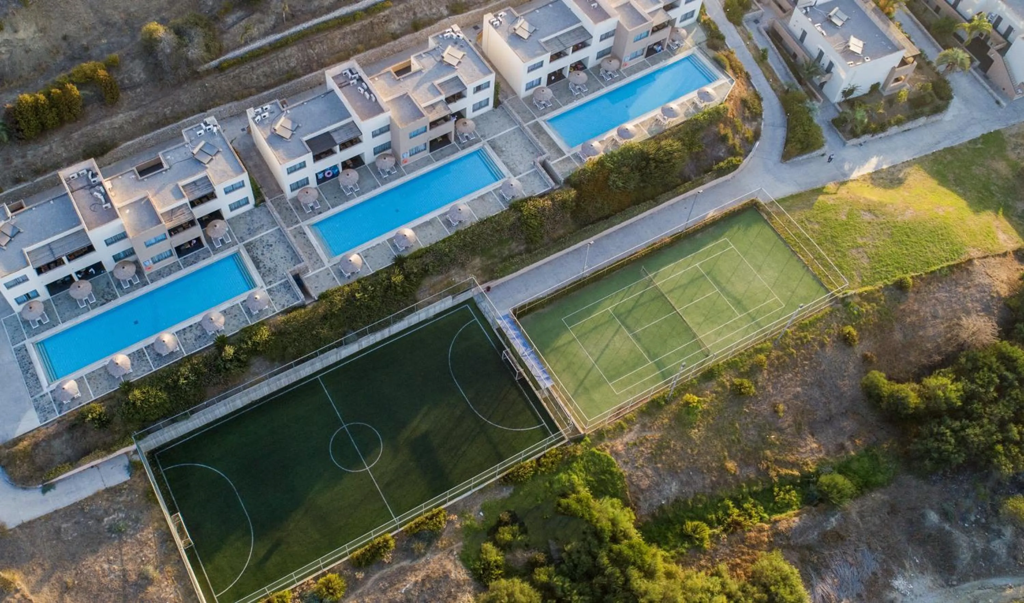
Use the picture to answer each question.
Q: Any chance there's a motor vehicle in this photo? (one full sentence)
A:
No, there is no motor vehicle in the image.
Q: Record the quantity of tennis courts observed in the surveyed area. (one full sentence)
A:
In total, 1 tennis court can be seen.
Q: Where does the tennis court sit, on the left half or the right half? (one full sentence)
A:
The tennis court sits on the right side.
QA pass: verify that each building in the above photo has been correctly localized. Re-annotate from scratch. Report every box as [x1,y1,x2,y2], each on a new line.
[0,116,255,311]
[766,0,924,98]
[243,23,494,199]
[942,0,1024,100]
[480,0,701,97]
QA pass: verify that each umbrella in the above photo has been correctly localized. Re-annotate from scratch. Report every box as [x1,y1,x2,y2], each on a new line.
[20,301,46,323]
[206,221,230,242]
[599,57,620,77]
[392,229,416,251]
[338,254,363,276]
[53,379,82,403]
[532,87,553,108]
[244,290,269,312]
[199,311,225,333]
[112,261,137,283]
[338,170,361,191]
[615,124,637,144]
[455,119,476,139]
[374,154,397,175]
[668,27,687,47]
[68,280,94,302]
[152,332,179,355]
[567,71,588,92]
[694,87,716,107]
[579,141,601,162]
[297,188,321,209]
[659,103,681,124]
[106,354,133,377]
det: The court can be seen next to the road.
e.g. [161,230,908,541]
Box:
[520,208,828,420]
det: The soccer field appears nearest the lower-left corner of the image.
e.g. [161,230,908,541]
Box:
[147,302,565,603]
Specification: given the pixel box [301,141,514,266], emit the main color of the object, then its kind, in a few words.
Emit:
blue swimming pool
